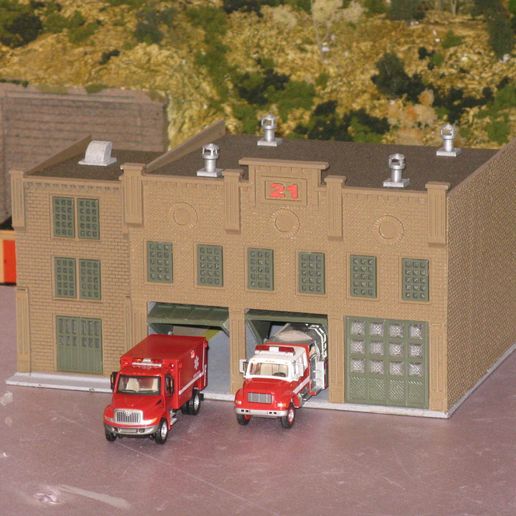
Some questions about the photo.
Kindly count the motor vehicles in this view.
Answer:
two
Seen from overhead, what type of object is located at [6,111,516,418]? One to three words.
building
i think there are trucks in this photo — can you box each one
[104,339,206,447]
[237,325,329,430]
